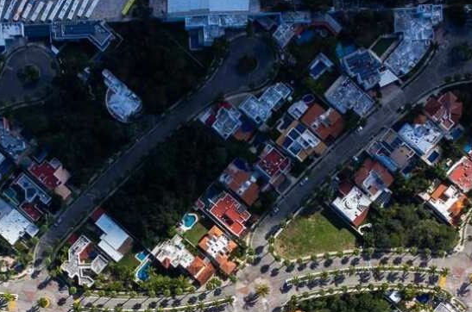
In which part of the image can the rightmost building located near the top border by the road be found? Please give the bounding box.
[379,4,443,87]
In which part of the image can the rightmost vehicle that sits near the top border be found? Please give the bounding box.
[121,0,135,16]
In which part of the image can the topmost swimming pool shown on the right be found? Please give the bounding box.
[296,29,313,44]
